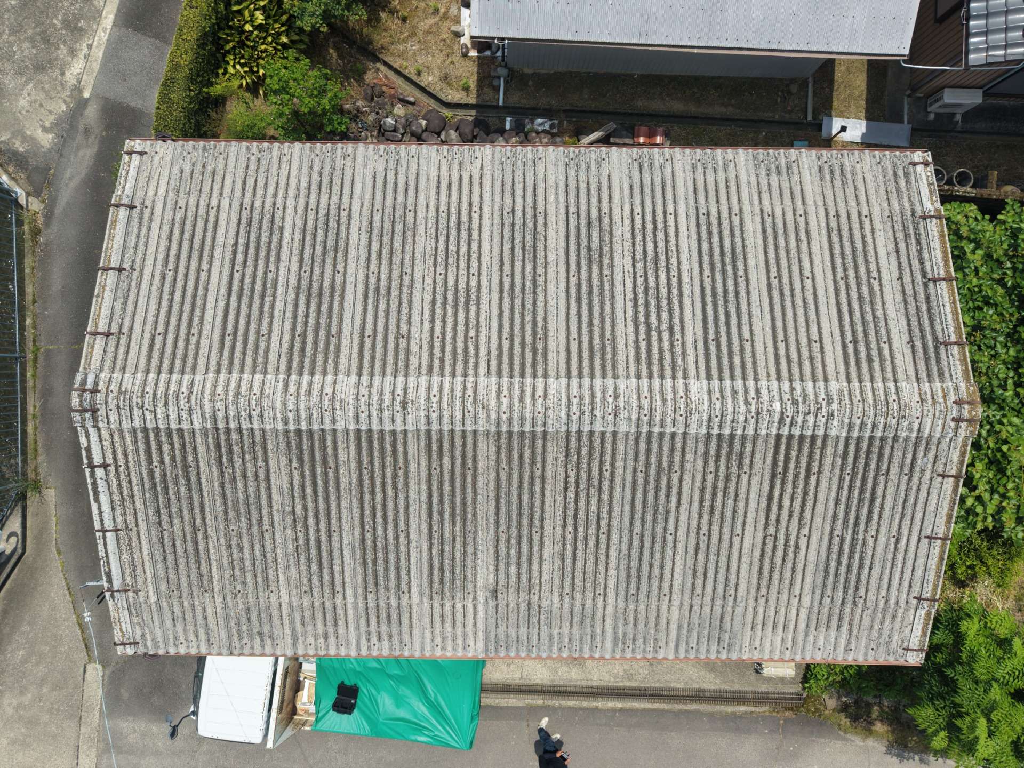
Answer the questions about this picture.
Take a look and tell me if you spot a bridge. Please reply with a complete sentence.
No, there is no bridge in the image.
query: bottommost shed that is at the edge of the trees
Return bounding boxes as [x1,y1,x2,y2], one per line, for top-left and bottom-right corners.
[65,132,985,666]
